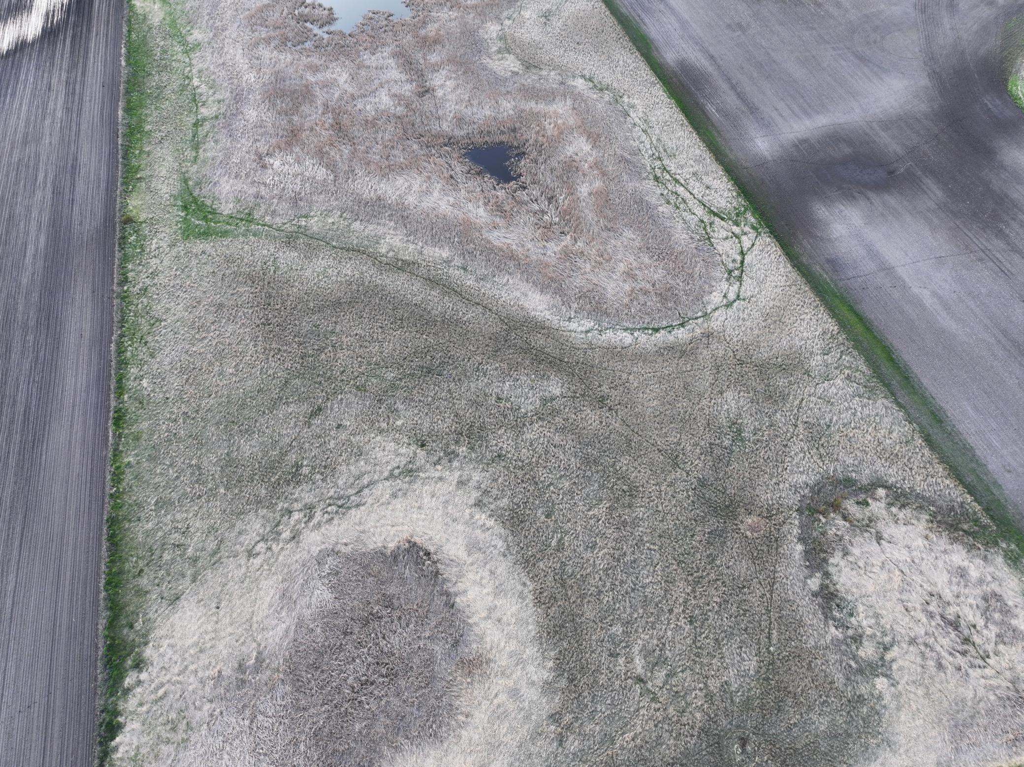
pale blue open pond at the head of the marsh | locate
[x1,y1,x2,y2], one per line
[284,0,414,47]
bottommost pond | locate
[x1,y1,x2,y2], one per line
[461,142,530,187]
